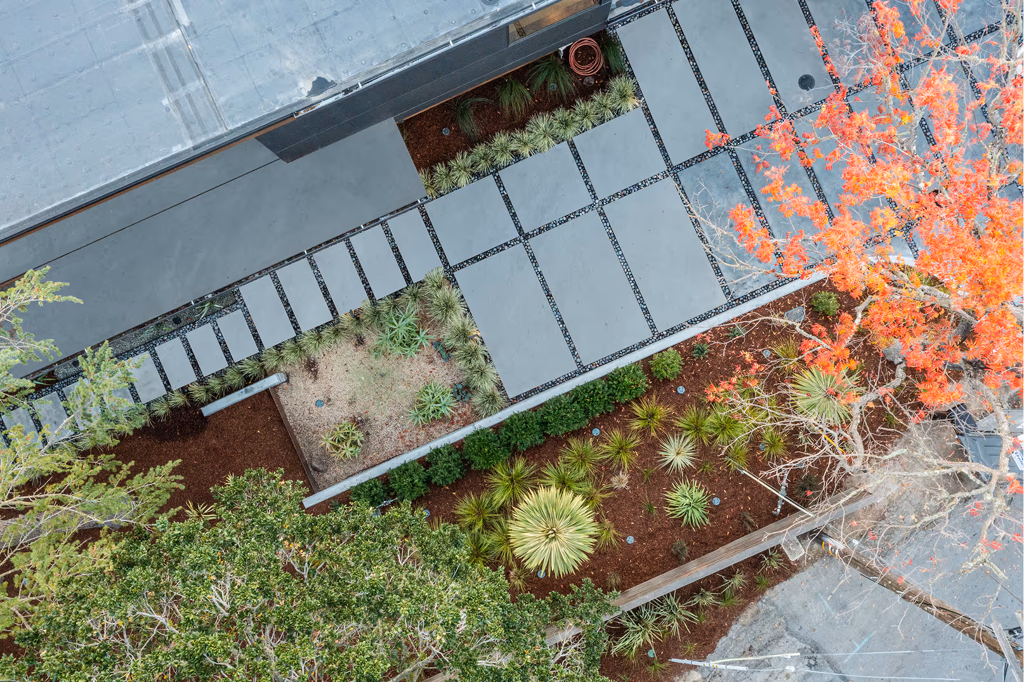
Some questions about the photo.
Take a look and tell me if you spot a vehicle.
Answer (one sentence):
No, this view has no vehicle in it.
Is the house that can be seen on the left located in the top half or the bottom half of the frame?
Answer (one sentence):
You can find the house that can be seen on the left in the top half.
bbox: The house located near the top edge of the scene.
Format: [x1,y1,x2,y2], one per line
[0,0,615,248]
